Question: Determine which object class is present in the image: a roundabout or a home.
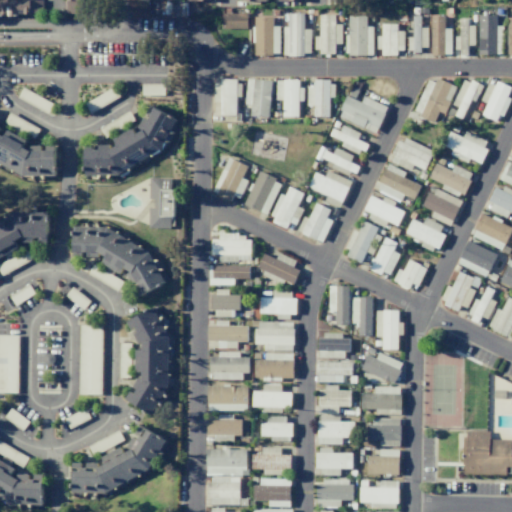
home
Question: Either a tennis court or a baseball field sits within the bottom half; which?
tennis court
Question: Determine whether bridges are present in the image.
No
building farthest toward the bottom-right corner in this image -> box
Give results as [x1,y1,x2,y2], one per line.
[465,432,512,476]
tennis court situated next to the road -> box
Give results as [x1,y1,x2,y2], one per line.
[424,352,466,429]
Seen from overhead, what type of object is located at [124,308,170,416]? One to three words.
building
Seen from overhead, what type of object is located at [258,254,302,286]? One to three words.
house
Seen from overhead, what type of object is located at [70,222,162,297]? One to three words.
building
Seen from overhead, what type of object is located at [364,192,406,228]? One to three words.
house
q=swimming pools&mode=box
[120,194,142,208]
[498,415,512,428]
